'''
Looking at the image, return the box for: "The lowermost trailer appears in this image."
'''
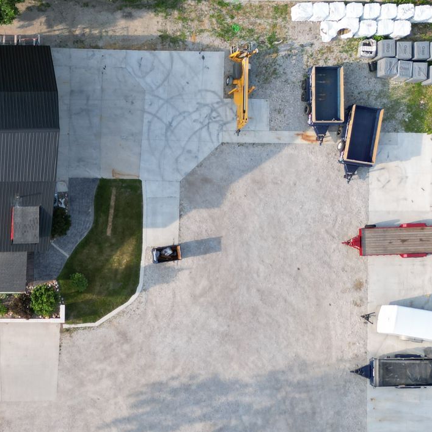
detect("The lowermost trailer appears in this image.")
[352,354,432,390]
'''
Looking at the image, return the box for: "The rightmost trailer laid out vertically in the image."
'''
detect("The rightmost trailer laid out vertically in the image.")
[335,105,382,182]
